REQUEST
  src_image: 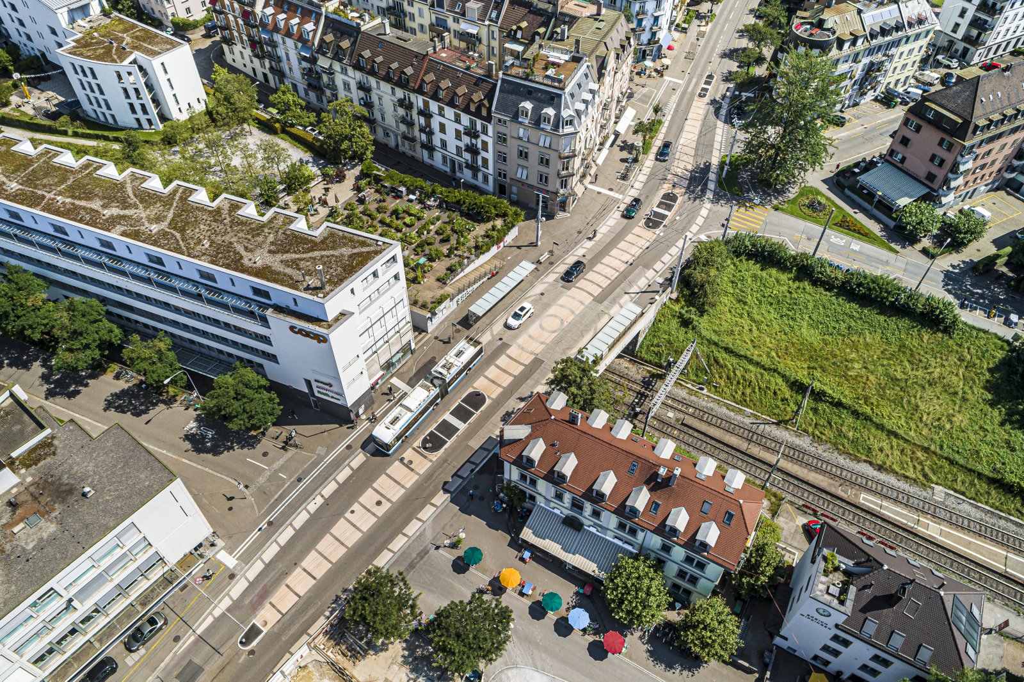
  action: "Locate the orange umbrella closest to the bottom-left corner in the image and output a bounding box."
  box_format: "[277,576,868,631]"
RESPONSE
[497,566,523,592]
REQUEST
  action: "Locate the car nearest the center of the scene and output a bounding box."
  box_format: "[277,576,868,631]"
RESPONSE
[505,300,535,327]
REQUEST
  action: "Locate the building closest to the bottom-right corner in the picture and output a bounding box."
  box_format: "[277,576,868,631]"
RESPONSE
[781,512,989,682]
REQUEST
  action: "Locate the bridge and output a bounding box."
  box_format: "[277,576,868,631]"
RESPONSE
[588,284,678,376]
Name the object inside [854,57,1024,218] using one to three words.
house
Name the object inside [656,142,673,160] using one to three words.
car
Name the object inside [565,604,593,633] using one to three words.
umbrella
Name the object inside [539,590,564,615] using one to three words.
umbrella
